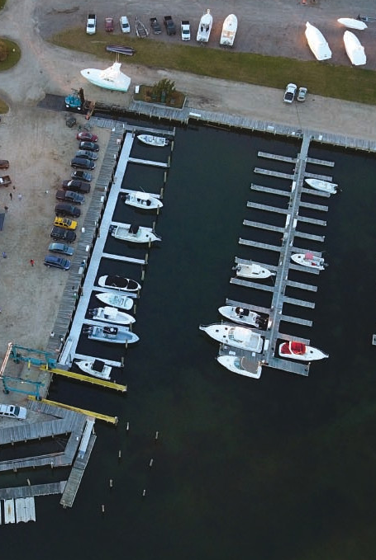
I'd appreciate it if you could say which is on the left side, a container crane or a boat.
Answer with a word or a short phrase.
boat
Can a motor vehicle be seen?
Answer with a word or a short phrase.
Yes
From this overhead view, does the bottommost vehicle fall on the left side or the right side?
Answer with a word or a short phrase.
left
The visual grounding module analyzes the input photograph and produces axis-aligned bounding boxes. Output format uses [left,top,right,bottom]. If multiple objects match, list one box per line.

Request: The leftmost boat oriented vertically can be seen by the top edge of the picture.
[195,7,214,44]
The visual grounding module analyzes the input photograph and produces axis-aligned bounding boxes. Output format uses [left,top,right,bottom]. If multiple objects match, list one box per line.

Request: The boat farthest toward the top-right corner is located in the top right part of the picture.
[337,17,368,34]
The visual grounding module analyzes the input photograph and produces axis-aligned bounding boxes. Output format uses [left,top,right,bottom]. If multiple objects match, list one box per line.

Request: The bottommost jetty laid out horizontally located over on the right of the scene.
[219,345,309,376]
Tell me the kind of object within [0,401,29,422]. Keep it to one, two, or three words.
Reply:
vehicle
